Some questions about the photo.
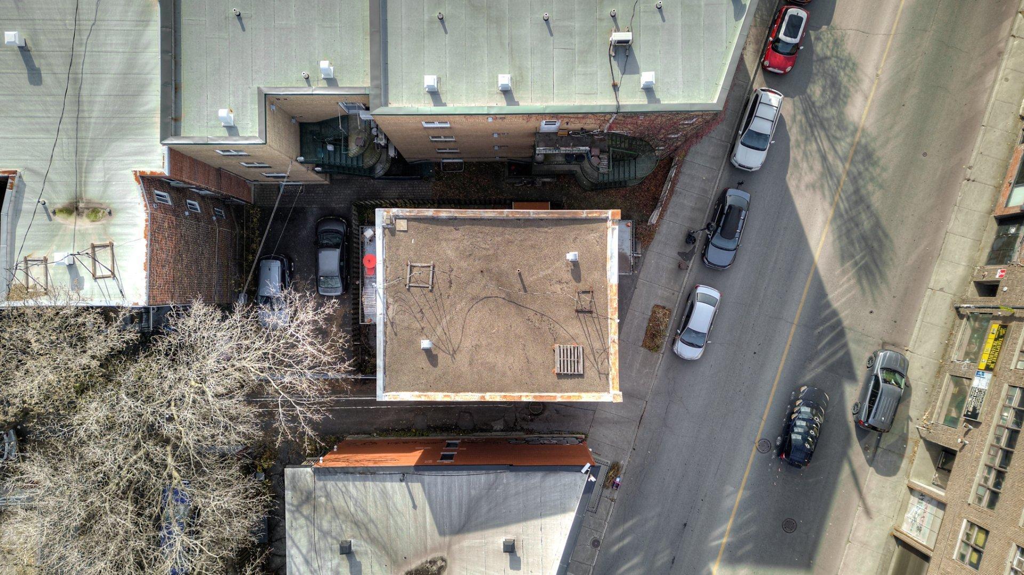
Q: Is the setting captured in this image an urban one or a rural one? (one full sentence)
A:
The area is urban.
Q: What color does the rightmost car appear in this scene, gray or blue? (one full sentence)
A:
The rightmost car looks gray in the image.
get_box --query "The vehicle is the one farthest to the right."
[851,349,909,430]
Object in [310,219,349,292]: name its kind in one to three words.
car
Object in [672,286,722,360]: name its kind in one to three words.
car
